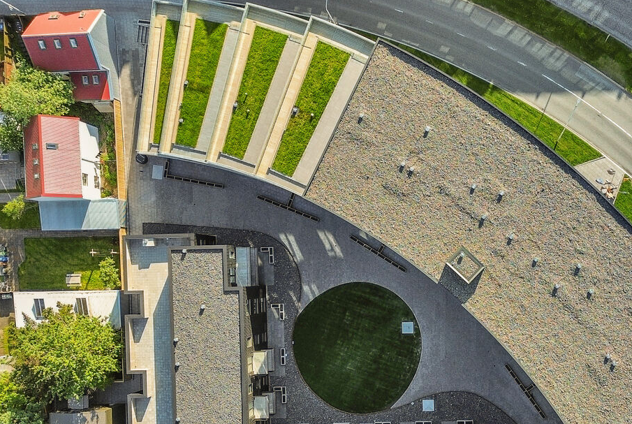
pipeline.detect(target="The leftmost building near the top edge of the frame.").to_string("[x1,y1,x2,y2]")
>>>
[20,9,118,104]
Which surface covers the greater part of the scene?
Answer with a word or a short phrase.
buildings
